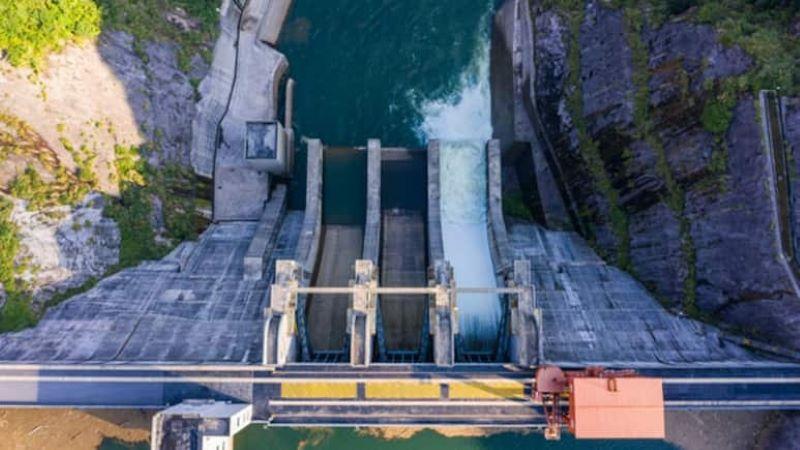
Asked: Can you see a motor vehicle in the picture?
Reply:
No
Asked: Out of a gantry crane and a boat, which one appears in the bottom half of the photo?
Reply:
gantry crane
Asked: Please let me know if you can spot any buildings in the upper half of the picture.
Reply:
Yes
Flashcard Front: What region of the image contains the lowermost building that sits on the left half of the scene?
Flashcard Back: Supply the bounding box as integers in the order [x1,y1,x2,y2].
[152,405,259,450]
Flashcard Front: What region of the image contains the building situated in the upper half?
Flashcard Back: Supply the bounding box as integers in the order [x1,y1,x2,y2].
[245,121,286,171]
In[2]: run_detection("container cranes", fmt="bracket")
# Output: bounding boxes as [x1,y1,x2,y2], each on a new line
[526,363,667,441]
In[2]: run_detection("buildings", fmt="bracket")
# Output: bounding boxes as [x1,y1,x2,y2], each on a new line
[152,405,259,450]
[245,121,286,171]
